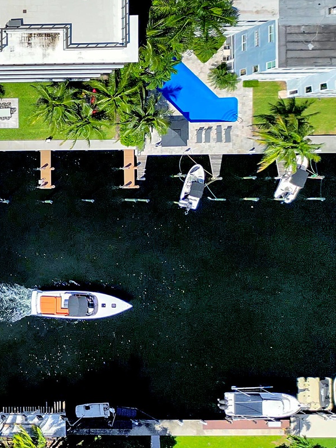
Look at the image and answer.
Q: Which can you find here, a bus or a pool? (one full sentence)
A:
The one in the frame is a pool.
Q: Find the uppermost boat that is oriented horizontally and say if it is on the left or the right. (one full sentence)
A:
The uppermost boat that is oriented horizontally sits on the left side.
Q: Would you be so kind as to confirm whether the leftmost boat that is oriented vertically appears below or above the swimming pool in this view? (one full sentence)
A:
Looking at the photo, you'll find the leftmost boat that is oriented vertically below the swimming pool.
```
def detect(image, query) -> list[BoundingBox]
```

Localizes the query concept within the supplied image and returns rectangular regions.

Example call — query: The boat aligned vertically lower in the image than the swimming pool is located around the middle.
[179,164,204,218]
